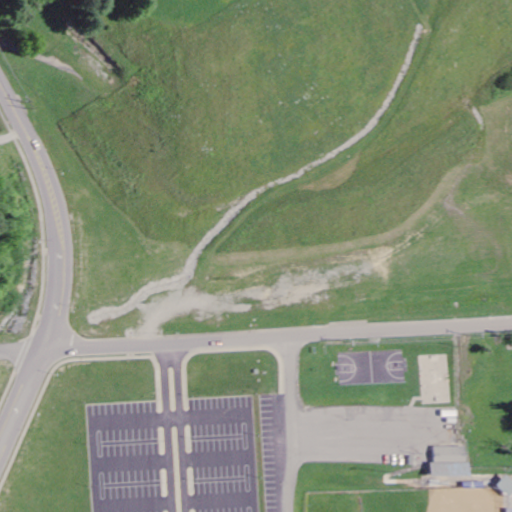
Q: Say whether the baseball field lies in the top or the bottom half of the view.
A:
bottom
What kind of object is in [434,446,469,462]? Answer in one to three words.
shed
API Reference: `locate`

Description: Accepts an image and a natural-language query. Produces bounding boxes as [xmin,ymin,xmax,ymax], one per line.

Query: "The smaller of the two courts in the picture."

[418,354,451,404]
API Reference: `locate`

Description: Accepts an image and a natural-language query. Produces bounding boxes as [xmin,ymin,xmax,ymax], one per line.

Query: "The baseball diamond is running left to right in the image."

[310,488,502,512]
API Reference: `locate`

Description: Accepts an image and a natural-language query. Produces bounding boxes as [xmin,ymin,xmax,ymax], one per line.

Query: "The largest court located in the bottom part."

[335,350,408,386]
